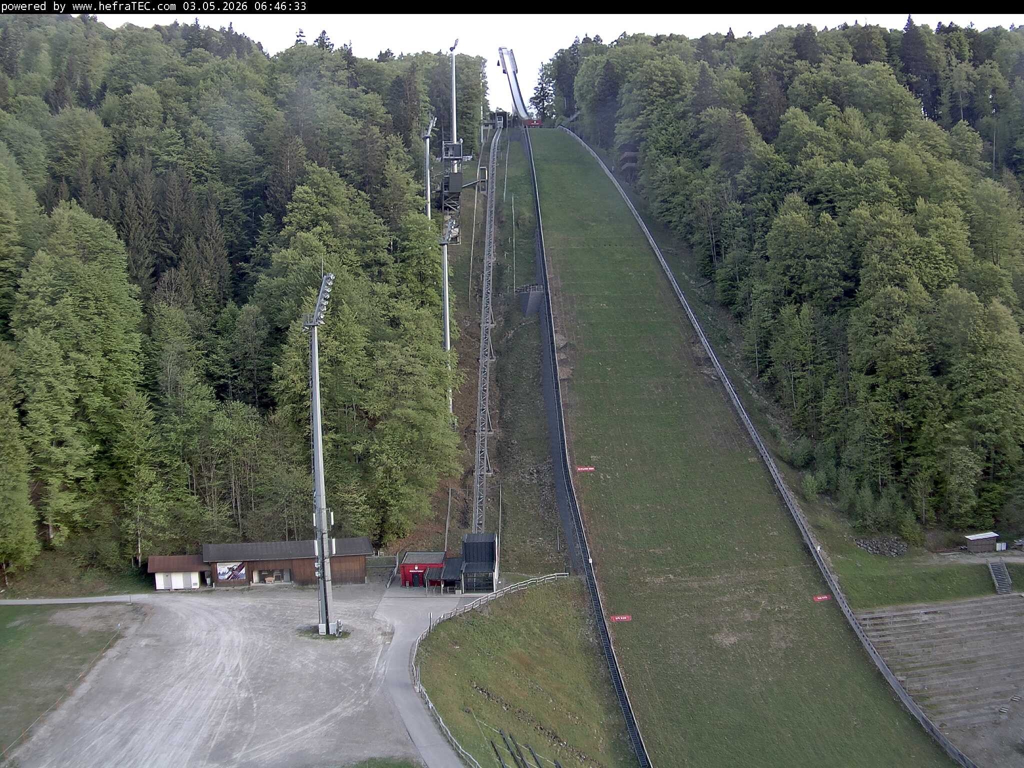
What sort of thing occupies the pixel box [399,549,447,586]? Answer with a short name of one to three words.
building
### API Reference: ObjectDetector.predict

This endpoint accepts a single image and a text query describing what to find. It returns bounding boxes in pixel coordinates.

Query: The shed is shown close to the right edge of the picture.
[955,527,1002,552]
